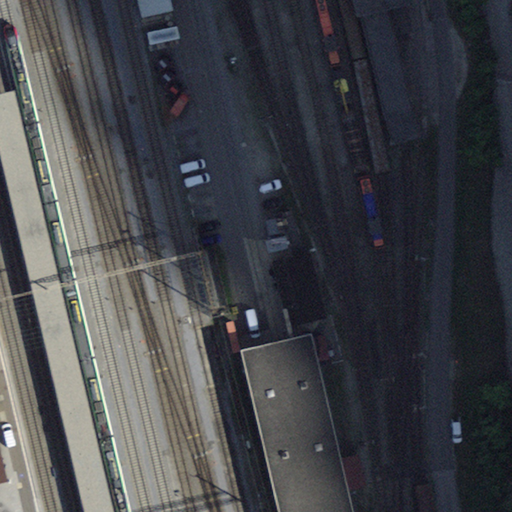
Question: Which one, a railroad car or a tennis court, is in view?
railroad car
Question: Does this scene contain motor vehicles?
Yes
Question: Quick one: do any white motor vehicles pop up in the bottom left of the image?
Yes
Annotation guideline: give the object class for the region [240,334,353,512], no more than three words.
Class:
building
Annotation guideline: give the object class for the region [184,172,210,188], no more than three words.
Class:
vehicle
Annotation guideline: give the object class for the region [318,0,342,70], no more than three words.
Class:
rail car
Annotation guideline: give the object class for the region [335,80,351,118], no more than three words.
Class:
work vehicle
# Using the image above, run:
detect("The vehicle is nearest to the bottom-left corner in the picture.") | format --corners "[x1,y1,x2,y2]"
[0,422,17,450]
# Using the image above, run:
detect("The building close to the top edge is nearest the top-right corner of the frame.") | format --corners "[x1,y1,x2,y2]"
[354,0,422,144]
